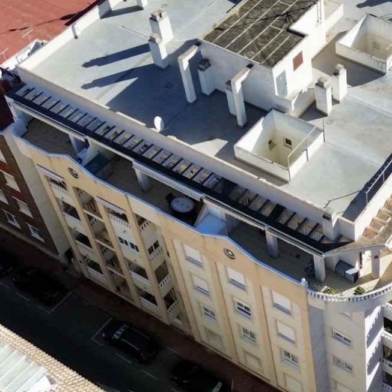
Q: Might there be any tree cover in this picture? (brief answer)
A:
No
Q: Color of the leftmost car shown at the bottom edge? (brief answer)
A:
black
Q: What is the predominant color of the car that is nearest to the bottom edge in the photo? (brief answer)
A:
black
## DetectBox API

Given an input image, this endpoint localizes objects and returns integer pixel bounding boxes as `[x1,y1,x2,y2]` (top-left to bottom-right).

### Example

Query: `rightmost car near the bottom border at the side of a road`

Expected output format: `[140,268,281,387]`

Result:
[166,358,233,392]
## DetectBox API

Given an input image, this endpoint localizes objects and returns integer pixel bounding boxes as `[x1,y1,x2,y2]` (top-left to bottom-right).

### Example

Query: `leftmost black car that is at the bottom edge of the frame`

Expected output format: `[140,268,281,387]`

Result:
[99,318,169,373]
